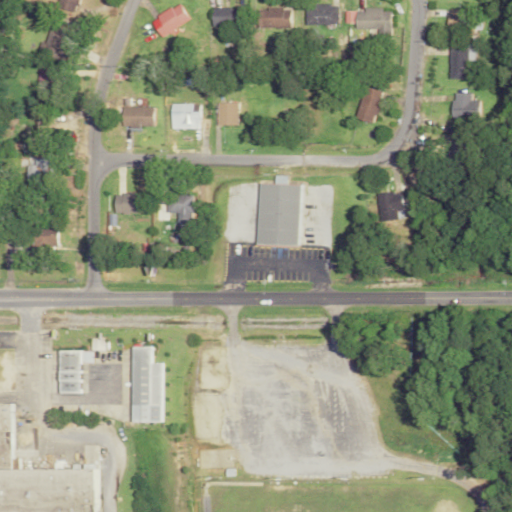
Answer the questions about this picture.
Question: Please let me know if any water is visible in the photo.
No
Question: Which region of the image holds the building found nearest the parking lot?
center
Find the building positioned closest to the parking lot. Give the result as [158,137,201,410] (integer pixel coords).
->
[256,176,303,247]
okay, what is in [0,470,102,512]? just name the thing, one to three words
building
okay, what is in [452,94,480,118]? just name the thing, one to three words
house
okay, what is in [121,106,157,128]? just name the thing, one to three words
house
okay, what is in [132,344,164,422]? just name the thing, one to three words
shed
